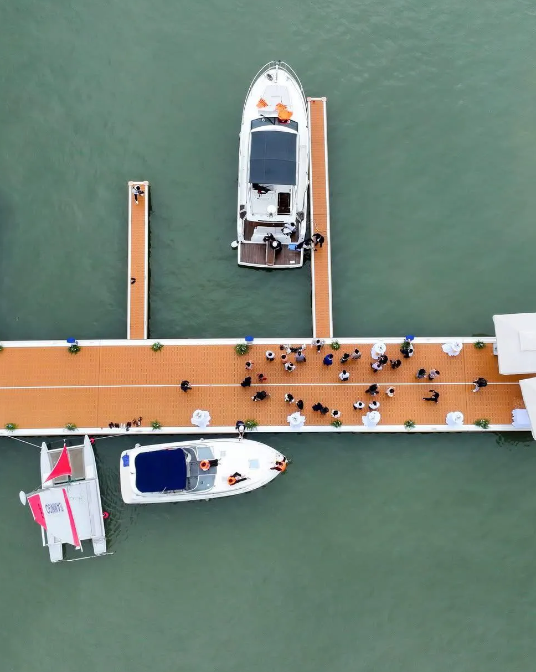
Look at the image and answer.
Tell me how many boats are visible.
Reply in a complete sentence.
The picture shows 3 boats.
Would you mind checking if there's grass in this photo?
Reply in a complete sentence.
No, no grass is visible.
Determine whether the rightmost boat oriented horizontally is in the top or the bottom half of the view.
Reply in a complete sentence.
The rightmost boat oriented horizontally is in the bottom half of the image.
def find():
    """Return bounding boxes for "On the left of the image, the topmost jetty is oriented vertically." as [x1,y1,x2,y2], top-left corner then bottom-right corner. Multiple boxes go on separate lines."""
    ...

[125,180,154,339]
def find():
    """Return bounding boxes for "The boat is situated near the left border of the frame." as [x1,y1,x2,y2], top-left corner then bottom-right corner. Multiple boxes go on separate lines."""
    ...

[22,434,115,565]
